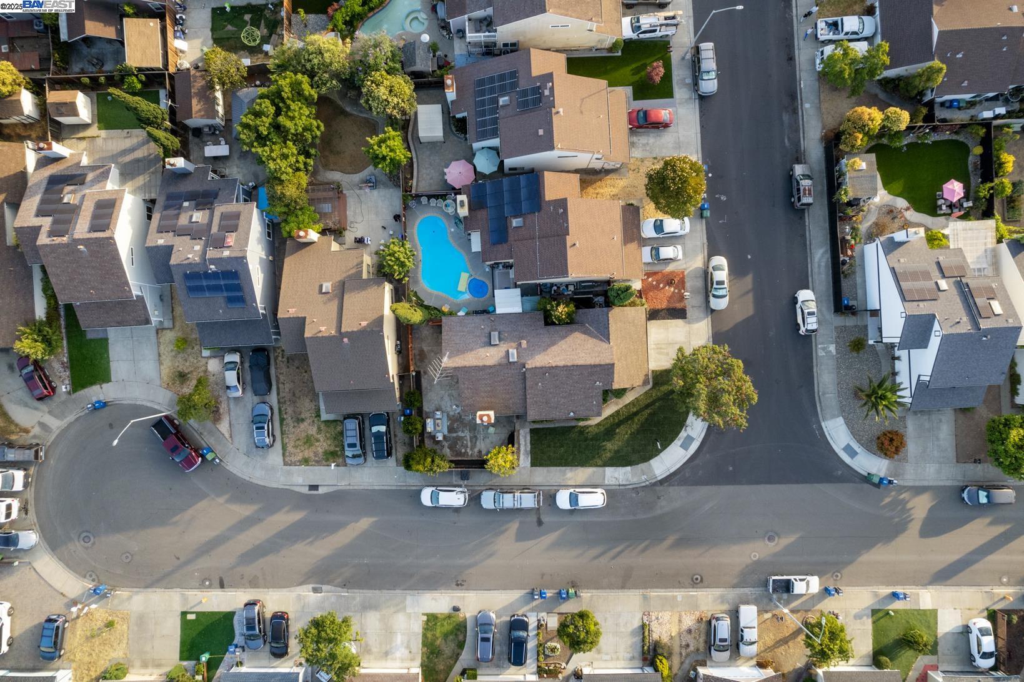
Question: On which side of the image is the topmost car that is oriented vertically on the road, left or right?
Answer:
right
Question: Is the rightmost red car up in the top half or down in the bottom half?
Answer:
top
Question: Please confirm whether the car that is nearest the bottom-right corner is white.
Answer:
Yes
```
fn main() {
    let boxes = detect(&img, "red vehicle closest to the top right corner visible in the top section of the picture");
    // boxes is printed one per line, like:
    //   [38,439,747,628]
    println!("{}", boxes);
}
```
[629,106,676,130]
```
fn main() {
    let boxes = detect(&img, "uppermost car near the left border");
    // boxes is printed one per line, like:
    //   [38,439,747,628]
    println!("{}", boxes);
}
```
[17,356,57,403]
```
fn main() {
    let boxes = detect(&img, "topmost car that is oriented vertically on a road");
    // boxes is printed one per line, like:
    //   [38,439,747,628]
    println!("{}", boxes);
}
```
[694,40,720,97]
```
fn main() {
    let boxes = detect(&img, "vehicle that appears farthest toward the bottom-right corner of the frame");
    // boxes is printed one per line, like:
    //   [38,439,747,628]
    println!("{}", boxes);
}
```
[967,616,998,670]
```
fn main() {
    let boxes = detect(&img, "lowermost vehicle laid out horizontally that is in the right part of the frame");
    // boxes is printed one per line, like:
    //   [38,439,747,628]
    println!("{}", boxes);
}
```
[766,572,820,597]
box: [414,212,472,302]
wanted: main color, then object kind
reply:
blue swimming pool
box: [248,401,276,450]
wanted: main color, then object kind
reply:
blue car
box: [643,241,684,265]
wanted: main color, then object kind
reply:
white car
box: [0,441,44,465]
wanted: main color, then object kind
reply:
gray truck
